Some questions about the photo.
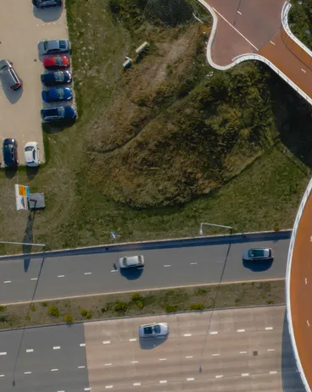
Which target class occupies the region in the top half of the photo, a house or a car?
car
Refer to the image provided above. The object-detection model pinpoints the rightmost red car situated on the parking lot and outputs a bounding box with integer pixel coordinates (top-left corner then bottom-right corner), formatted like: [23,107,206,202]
[42,54,72,69]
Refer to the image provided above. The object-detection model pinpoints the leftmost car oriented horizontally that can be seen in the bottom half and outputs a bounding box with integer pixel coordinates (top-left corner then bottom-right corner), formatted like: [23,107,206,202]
[119,255,146,269]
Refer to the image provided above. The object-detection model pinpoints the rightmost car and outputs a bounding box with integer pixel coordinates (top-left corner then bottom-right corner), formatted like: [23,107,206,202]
[243,247,276,262]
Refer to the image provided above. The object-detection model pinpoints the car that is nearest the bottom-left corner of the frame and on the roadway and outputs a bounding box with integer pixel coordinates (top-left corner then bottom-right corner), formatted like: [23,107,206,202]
[138,323,172,337]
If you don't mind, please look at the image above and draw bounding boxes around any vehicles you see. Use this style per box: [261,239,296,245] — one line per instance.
[1,138,19,168]
[42,54,72,69]
[39,87,74,102]
[243,247,276,262]
[119,255,146,269]
[138,323,172,337]
[38,38,73,54]
[40,70,74,86]
[33,0,65,8]
[0,59,22,92]
[40,107,79,122]
[24,140,42,167]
